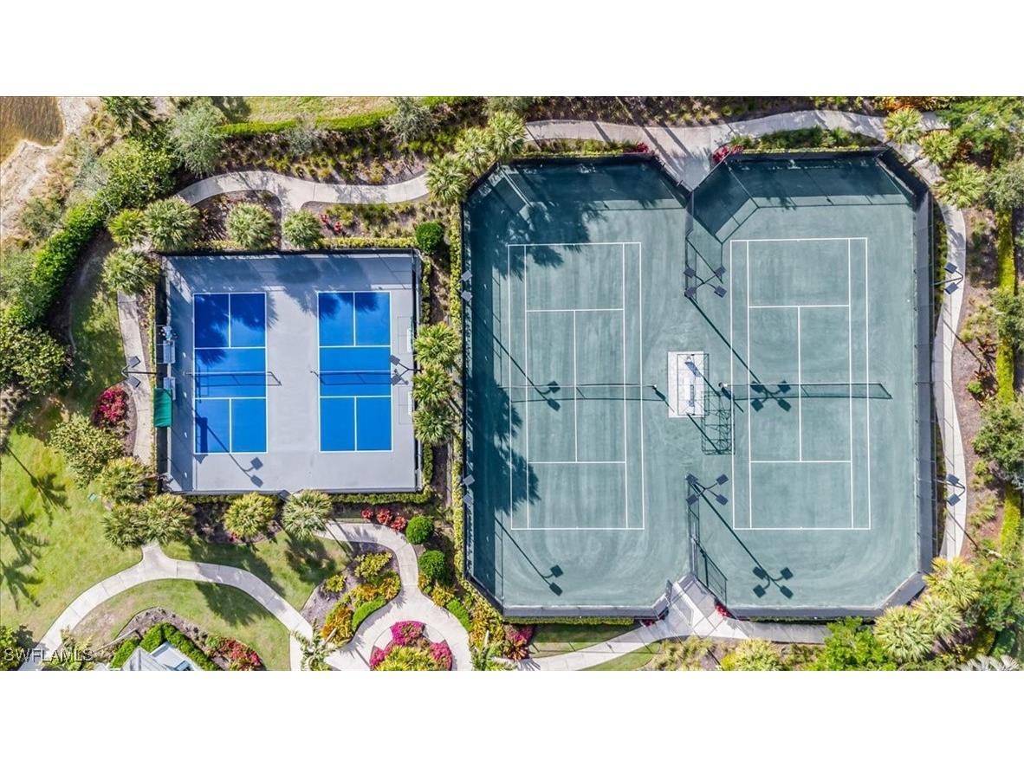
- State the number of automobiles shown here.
0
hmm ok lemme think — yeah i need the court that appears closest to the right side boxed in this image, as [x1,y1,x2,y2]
[686,157,919,608]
